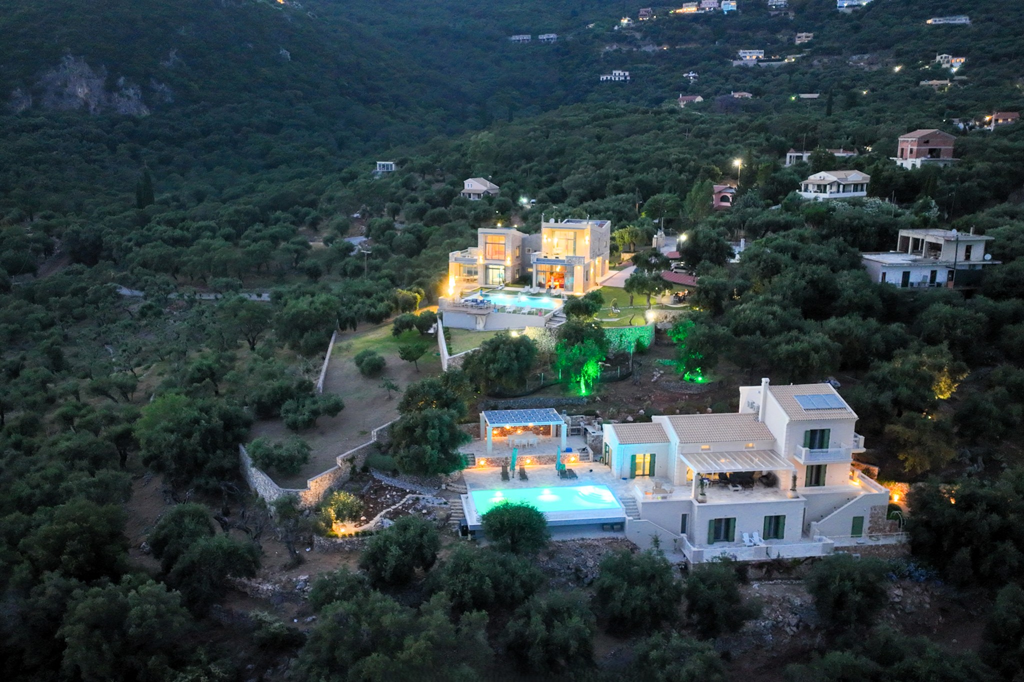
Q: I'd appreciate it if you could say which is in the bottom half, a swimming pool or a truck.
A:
swimming pool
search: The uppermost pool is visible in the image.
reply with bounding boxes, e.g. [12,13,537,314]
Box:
[447,292,570,310]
